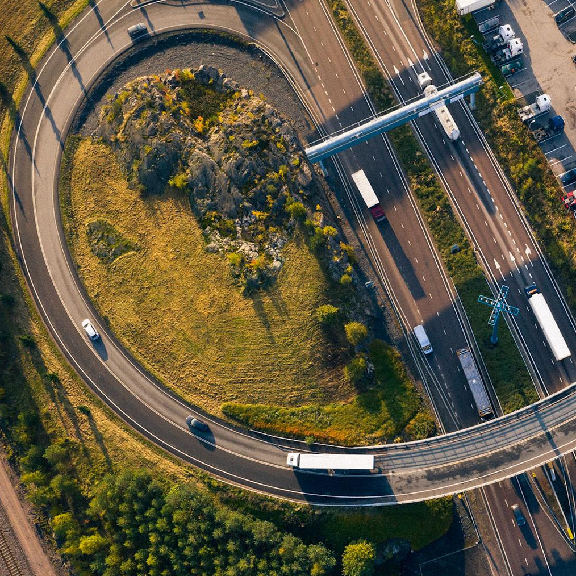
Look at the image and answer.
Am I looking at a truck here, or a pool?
truck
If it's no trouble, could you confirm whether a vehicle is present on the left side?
Yes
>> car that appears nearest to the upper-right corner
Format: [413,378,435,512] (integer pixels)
[553,7,575,26]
